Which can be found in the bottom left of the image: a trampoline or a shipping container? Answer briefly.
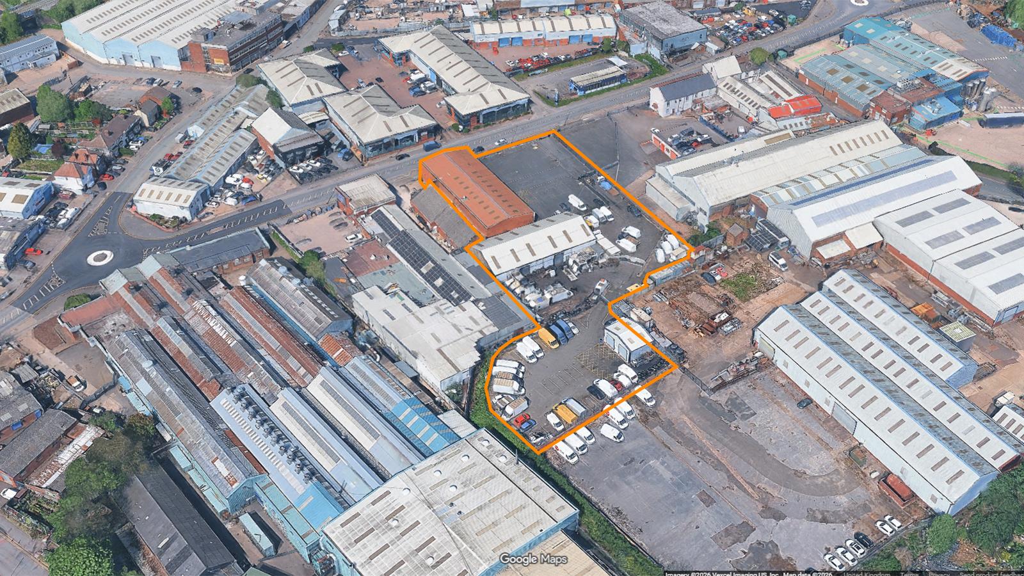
shipping container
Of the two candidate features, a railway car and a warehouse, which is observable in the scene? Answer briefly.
warehouse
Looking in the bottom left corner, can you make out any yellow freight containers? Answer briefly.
No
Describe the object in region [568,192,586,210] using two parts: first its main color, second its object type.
white vehicle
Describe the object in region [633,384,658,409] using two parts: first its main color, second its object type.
white vehicle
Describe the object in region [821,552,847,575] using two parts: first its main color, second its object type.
white car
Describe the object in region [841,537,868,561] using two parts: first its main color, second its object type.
white car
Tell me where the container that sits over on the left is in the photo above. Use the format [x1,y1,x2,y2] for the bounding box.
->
[239,513,276,561]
